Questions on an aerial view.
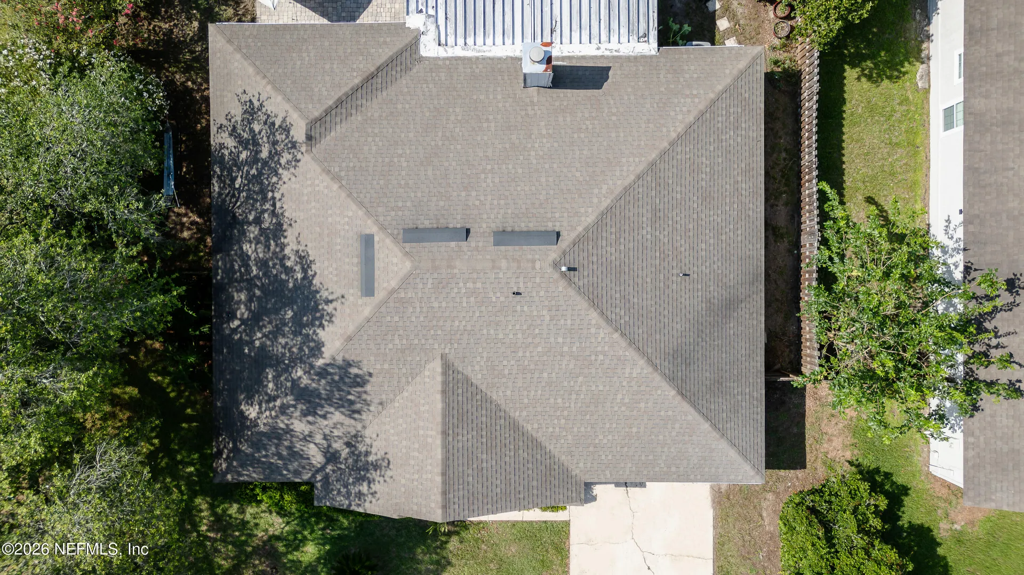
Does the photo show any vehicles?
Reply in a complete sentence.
No, the photo shows no vehicle.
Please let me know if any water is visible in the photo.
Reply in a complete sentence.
No, water can't be seen anywhere here.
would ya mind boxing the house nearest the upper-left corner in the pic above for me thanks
[208,20,765,521]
